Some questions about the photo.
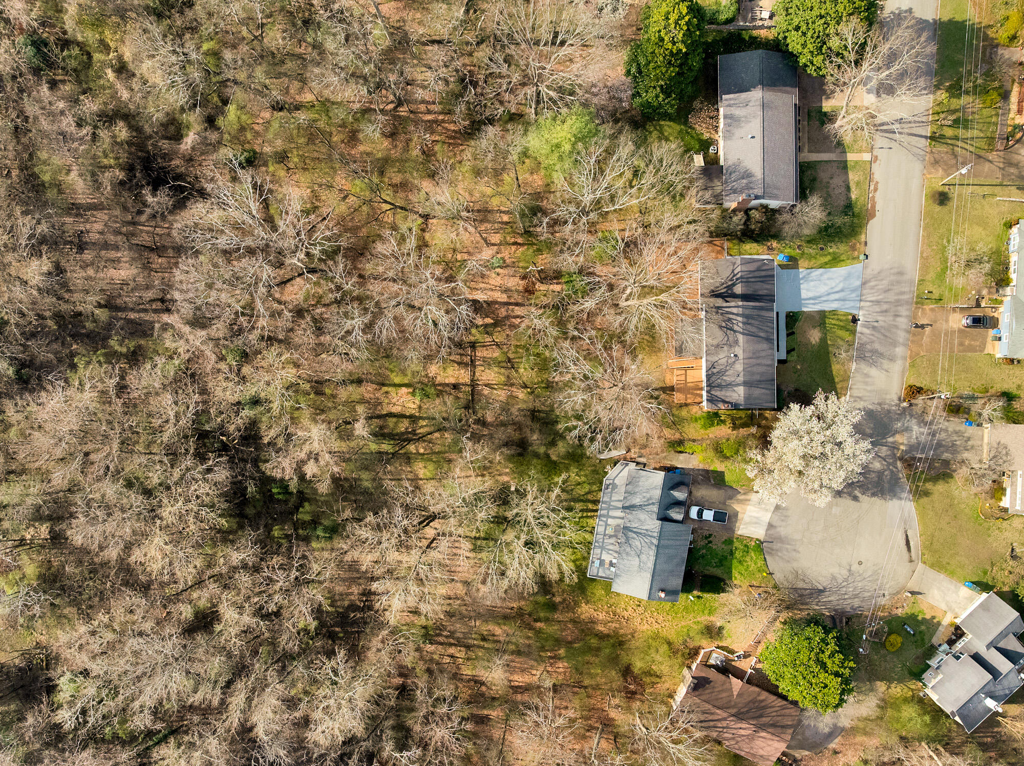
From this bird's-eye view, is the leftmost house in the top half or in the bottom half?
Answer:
bottom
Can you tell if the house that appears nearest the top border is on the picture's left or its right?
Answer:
right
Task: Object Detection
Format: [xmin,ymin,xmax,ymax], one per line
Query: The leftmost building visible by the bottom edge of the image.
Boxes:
[664,638,795,764]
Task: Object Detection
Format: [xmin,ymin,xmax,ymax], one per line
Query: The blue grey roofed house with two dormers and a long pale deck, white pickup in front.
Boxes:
[585,459,691,602]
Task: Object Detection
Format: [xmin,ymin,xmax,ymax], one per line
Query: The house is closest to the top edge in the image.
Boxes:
[691,49,798,214]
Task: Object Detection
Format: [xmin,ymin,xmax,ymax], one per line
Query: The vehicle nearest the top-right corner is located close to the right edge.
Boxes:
[962,314,996,329]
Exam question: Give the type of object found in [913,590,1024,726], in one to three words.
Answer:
house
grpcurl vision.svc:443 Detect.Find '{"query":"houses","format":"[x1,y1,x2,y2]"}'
[666,258,786,410]
[664,638,795,764]
[980,424,1024,513]
[913,590,1024,726]
[992,220,1024,358]
[691,49,798,214]
[585,459,691,602]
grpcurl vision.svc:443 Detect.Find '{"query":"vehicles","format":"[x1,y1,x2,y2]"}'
[688,506,729,524]
[962,314,996,329]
